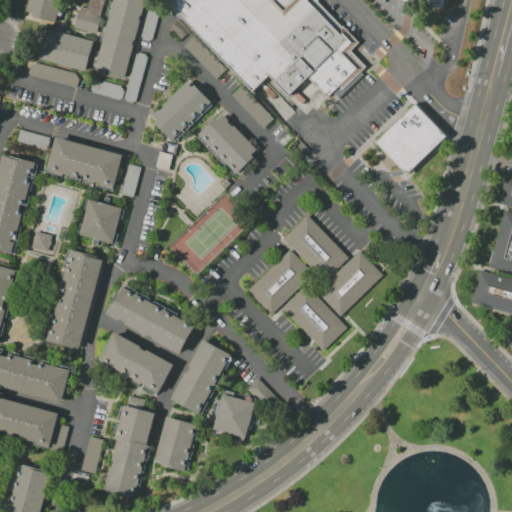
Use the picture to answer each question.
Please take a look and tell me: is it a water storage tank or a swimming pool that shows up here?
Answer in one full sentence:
Visible in the photo is a swimming pool.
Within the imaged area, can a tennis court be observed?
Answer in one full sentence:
Yes, the photo shows a tennis court.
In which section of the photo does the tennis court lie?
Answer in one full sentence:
The tennis court appears toward the center of the photo.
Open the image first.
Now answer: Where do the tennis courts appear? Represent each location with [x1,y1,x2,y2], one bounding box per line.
[170,194,246,273]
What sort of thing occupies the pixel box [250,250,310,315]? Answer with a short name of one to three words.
building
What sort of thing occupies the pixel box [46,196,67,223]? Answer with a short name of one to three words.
swimming pool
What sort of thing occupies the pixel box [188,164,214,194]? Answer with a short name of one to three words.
swimming pool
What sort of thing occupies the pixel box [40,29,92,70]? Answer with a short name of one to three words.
house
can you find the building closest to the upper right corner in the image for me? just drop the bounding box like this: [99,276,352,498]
[376,104,447,172]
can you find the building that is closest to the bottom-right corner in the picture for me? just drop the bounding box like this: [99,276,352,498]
[473,271,512,314]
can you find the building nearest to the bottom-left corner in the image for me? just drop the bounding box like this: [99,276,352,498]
[9,465,46,512]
